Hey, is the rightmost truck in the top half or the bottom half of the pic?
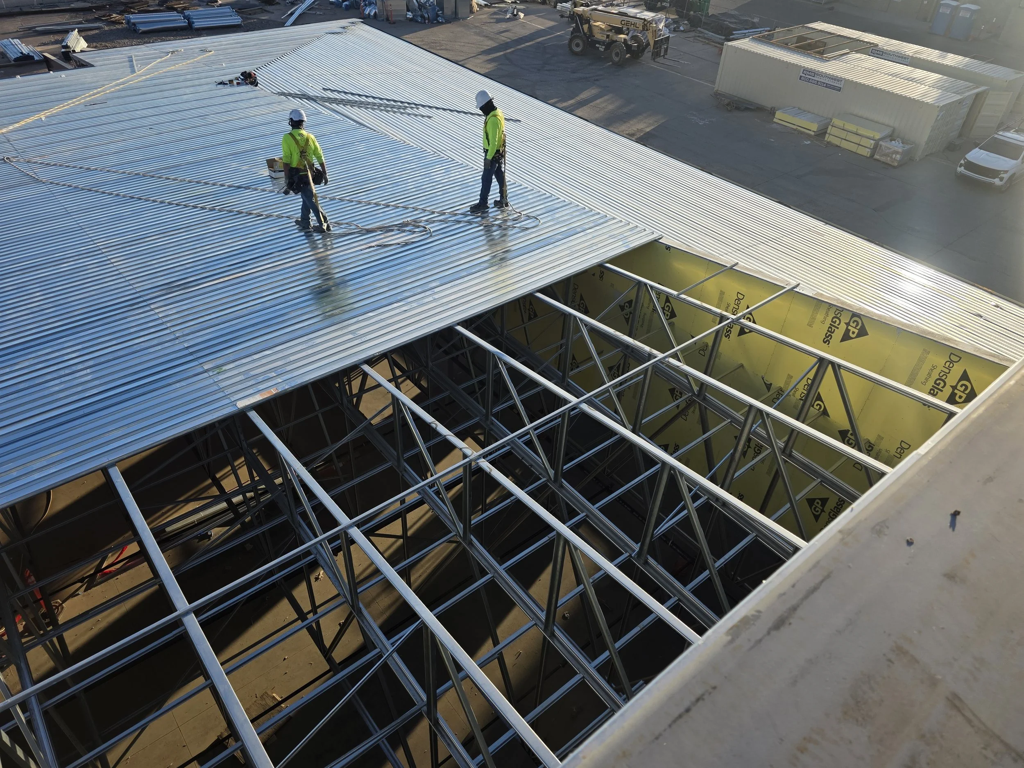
top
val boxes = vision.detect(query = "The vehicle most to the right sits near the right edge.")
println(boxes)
[956,114,1024,192]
